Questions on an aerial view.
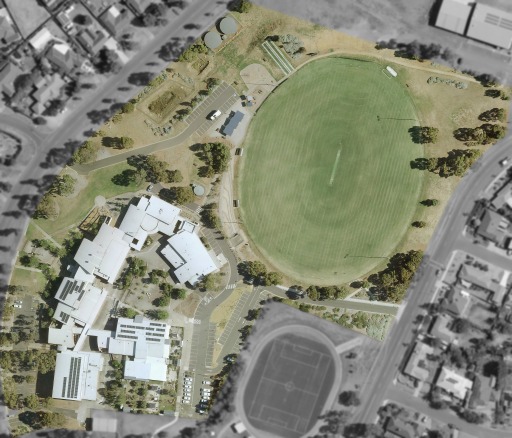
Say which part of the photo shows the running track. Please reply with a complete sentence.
The running track appears toward the bottom of the photo.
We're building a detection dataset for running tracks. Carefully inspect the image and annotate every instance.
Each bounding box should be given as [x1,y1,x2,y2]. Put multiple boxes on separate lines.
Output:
[238,326,342,438]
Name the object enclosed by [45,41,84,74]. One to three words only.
house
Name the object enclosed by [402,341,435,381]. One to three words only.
house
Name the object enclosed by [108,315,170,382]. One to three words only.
building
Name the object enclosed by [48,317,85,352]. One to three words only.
building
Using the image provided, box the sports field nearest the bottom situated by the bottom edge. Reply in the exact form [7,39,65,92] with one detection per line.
[238,326,342,438]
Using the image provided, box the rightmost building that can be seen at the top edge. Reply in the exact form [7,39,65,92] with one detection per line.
[467,0,512,50]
